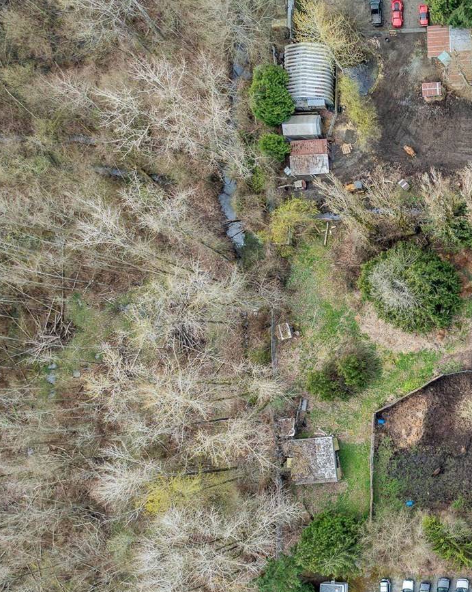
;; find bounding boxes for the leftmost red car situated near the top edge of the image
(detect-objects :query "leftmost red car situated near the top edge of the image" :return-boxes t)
[391,0,405,29]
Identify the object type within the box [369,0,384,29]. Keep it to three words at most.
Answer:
vehicle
